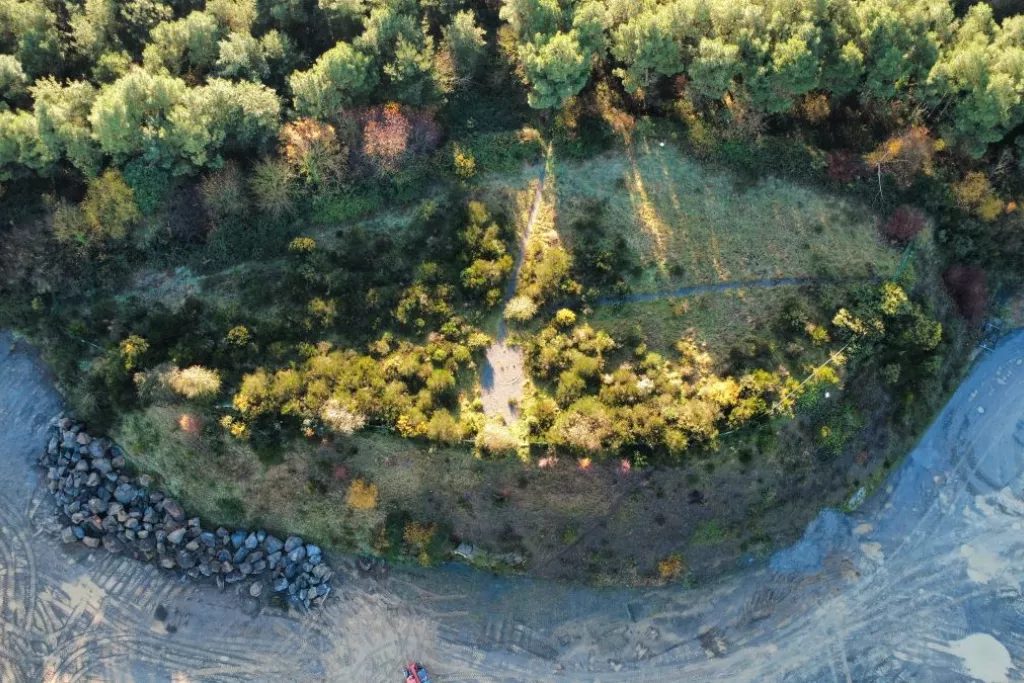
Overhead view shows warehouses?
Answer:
No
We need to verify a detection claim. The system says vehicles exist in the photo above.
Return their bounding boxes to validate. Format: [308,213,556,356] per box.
[404,660,428,683]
